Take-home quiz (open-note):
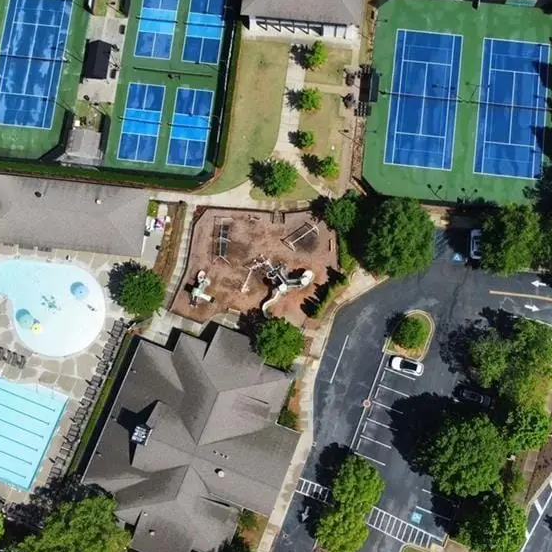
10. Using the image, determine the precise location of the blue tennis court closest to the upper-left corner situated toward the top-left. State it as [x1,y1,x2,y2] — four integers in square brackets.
[0,0,74,129]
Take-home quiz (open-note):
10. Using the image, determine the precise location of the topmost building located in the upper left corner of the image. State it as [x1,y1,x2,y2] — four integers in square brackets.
[83,40,115,84]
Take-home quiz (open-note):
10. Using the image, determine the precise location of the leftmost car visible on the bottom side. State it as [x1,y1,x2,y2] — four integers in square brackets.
[390,353,424,376]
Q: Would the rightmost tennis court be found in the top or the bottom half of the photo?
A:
top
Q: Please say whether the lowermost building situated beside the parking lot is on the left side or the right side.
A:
left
